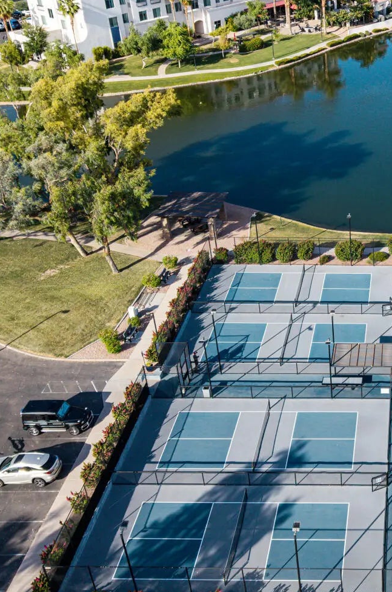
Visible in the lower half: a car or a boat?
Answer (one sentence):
You can see a car in the lower half.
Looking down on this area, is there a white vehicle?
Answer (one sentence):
Yes, there is a white vehicle in the image.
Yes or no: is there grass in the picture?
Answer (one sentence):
Yes, grass can be seen from above here.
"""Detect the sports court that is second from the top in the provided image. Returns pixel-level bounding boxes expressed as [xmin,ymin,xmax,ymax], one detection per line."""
[201,322,367,362]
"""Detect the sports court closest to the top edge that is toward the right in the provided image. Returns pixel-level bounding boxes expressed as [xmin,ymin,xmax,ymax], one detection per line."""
[225,273,372,305]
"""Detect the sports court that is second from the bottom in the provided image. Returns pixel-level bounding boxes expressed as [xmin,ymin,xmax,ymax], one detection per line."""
[158,411,358,469]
